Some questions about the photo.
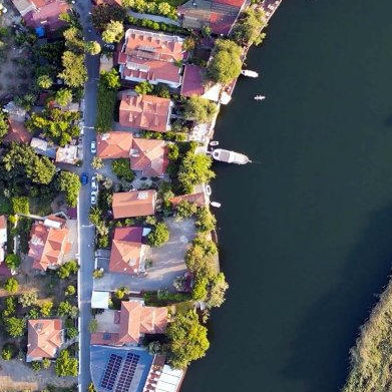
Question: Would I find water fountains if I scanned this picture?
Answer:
No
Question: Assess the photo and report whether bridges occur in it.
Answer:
No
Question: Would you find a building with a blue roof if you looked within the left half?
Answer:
Yes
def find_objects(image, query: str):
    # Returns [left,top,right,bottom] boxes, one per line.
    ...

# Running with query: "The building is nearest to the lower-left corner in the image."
[27,317,68,358]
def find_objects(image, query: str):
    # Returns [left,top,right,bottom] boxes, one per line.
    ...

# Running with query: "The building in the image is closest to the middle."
[169,193,205,210]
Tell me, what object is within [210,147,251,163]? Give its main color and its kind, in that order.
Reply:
white boat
